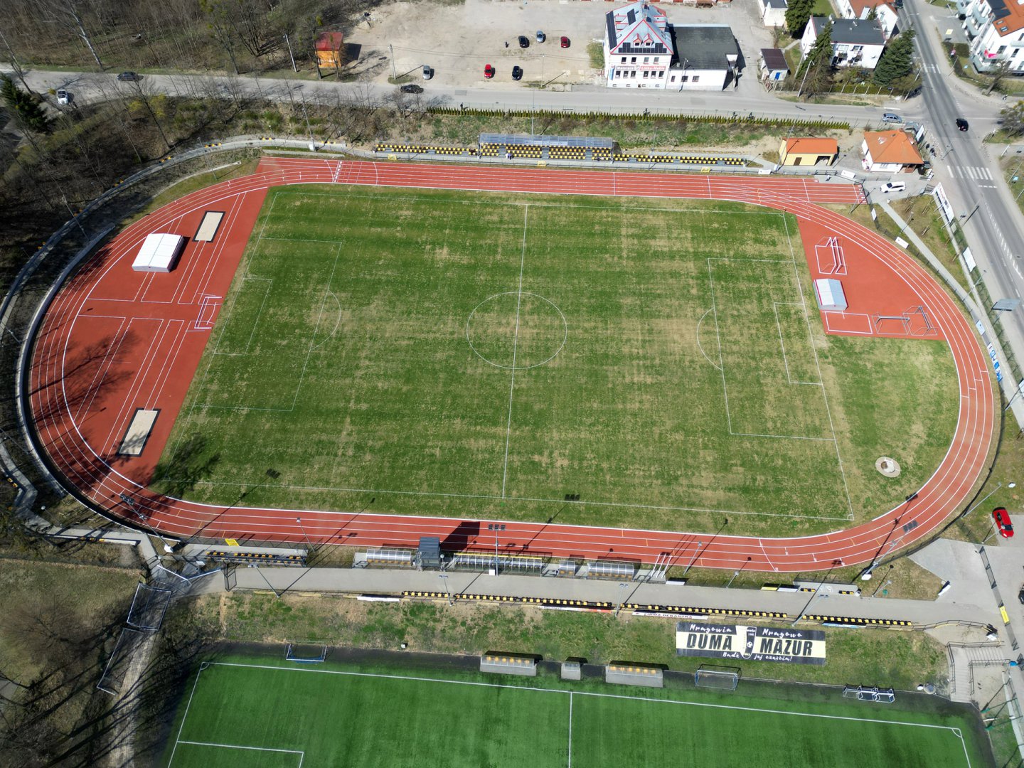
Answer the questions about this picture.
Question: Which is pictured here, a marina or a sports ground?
sports ground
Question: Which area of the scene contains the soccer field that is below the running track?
bottom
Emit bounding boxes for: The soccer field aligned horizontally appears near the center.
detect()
[150,183,960,538]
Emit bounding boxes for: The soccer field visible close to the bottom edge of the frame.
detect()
[160,655,975,768]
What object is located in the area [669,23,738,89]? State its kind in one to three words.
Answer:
building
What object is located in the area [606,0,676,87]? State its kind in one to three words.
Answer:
building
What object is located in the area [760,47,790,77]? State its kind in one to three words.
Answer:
shed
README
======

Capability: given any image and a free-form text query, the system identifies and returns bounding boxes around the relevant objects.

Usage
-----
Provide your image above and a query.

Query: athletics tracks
[32,161,992,571]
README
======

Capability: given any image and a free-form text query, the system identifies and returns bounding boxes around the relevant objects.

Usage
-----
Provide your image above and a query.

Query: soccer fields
[150,183,960,538]
[160,655,975,768]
